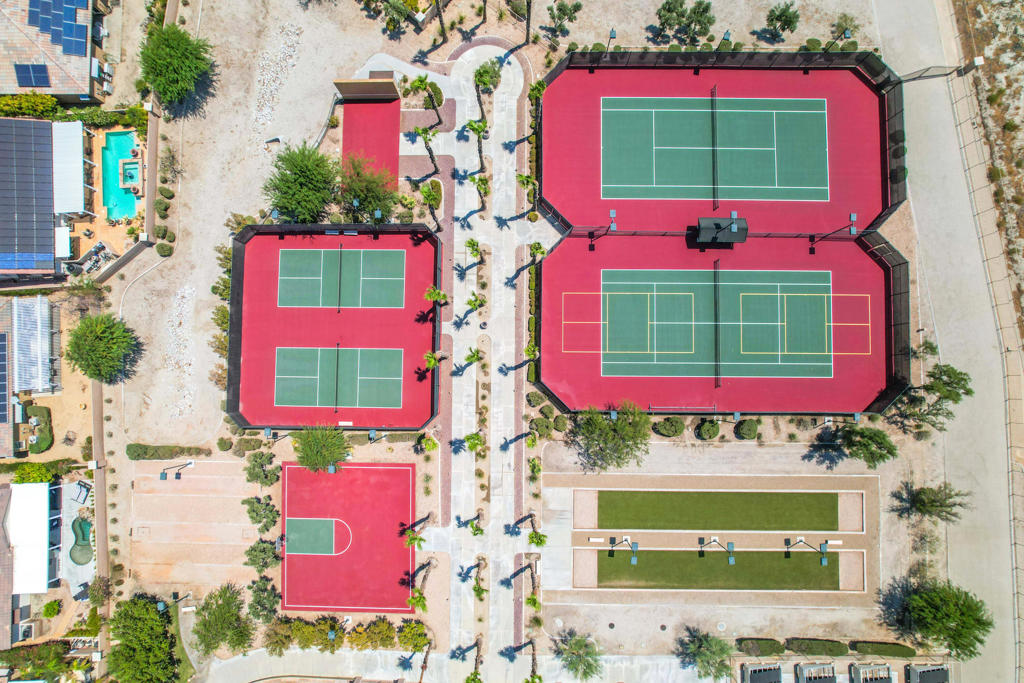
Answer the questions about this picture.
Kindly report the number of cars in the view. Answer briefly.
0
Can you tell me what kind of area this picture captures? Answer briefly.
sports ground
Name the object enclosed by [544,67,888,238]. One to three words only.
tennis court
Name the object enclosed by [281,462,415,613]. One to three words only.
basketball court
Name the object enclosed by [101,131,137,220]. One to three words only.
swimming pool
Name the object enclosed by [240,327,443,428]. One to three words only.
sports court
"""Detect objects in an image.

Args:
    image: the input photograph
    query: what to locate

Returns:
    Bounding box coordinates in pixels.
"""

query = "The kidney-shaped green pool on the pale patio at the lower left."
[68,517,94,567]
